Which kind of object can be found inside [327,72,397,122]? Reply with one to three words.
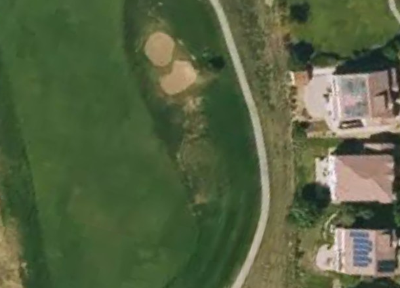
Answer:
house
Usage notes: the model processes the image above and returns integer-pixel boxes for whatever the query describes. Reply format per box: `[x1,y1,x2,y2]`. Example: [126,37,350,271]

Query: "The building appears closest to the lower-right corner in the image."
[332,229,394,276]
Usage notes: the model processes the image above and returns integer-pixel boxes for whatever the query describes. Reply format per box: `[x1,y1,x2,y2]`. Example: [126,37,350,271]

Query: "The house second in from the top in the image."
[328,156,392,202]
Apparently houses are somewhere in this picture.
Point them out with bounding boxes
[328,156,392,202]
[327,72,397,122]
[332,229,394,276]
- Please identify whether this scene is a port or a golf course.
golf course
